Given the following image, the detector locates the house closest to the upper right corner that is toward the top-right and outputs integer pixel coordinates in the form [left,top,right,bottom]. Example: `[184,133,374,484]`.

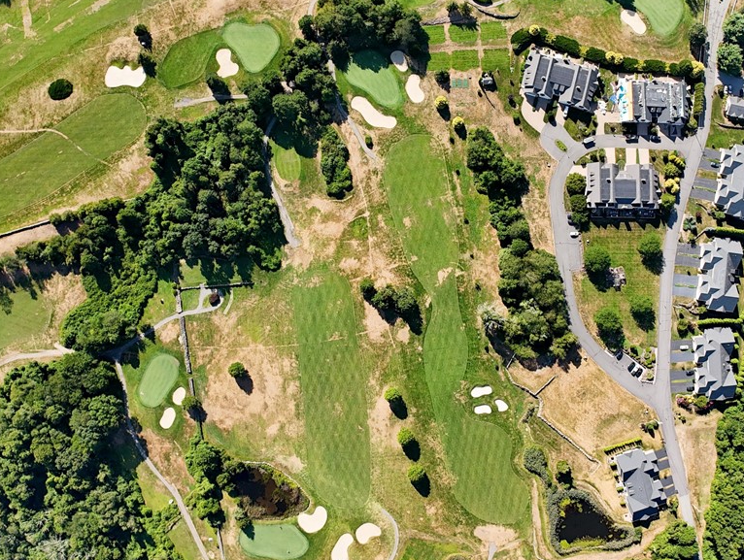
[722,99,744,125]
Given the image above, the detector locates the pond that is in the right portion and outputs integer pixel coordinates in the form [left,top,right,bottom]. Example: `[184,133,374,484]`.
[558,501,625,543]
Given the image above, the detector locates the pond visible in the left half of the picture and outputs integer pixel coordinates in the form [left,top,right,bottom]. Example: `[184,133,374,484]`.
[230,467,304,517]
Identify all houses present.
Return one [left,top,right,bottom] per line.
[722,99,744,125]
[713,144,744,220]
[583,165,659,218]
[611,444,666,522]
[517,49,599,114]
[688,327,741,401]
[610,81,690,138]
[692,239,744,312]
